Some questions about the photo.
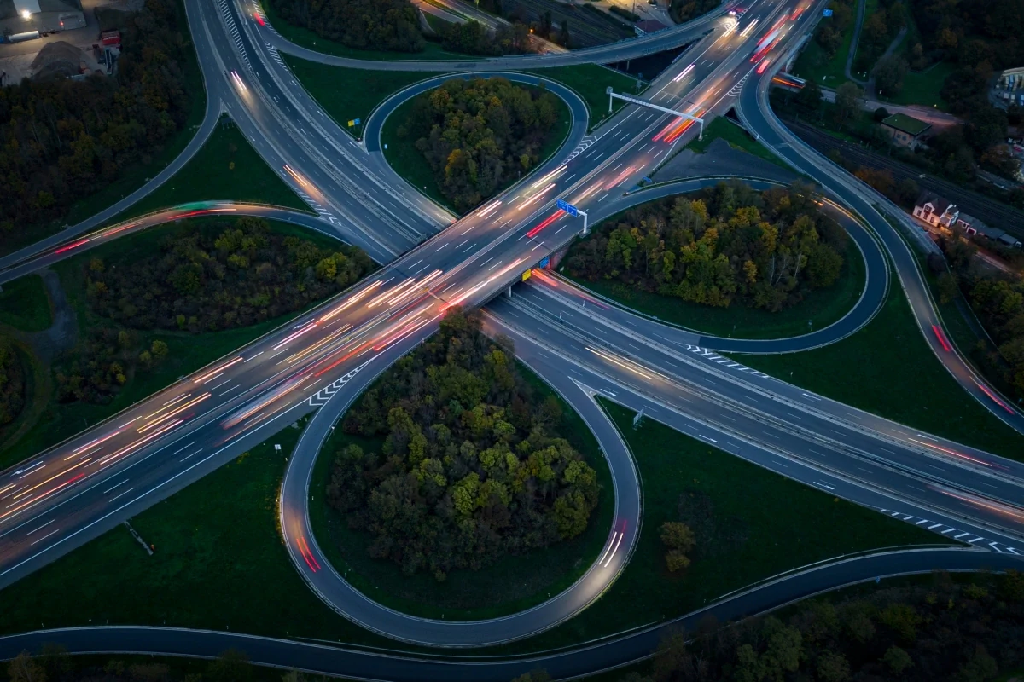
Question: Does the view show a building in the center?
No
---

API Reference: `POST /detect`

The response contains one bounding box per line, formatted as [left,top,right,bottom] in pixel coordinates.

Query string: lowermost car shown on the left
[299,543,314,562]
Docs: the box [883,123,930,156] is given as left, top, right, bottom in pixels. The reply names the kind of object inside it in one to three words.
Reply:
building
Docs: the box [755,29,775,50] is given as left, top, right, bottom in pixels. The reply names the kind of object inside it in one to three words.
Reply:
vehicle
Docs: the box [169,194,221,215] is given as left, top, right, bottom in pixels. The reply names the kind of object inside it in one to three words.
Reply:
truck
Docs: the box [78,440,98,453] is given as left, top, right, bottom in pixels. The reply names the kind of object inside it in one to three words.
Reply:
vehicle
